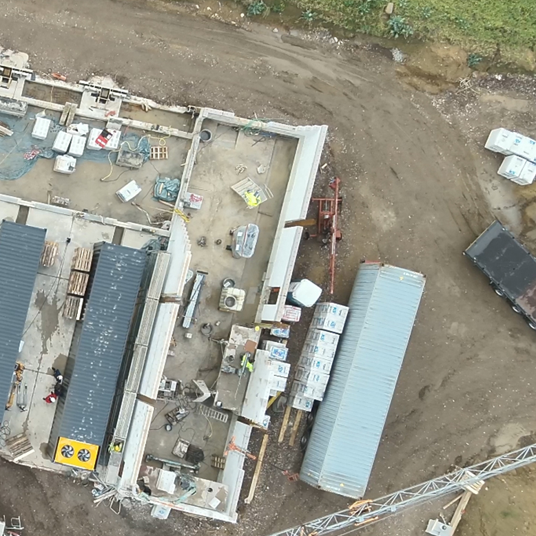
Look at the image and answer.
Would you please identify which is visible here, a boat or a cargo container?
cargo container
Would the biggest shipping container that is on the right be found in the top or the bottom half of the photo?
bottom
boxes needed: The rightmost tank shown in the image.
[285,279,322,308]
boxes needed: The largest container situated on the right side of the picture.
[302,266,422,496]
